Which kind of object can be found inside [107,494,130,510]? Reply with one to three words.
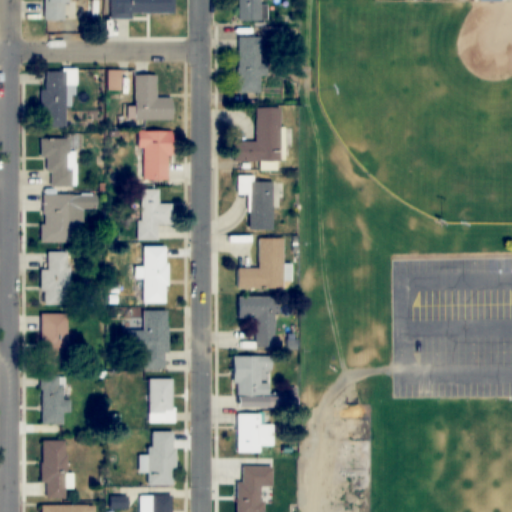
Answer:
building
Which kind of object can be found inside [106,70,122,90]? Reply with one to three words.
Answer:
building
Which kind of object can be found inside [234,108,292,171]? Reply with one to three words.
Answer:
house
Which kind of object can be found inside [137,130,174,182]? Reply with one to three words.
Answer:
house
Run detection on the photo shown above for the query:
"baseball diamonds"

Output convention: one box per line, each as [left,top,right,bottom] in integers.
[318,0,512,223]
